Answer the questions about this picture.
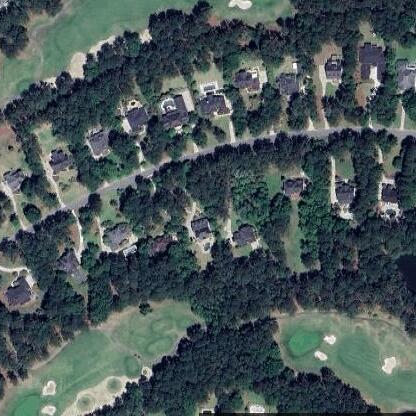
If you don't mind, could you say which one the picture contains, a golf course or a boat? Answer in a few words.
golf course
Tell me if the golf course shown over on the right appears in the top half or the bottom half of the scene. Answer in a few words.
bottom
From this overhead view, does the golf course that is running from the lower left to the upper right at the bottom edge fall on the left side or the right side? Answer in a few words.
left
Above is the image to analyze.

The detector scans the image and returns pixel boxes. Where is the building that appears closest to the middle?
[190,217,213,237]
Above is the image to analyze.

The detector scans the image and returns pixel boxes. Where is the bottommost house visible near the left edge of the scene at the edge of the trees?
[5,279,33,307]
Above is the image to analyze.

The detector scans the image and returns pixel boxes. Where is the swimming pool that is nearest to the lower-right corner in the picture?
[378,205,400,219]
